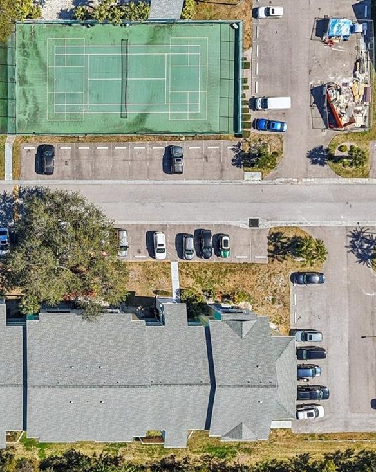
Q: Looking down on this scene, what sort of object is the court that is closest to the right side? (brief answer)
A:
tennis court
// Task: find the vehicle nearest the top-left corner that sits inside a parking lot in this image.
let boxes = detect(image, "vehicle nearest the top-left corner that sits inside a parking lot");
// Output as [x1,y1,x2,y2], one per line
[40,145,54,174]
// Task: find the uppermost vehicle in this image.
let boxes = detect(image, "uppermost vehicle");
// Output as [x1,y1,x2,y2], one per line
[256,5,284,19]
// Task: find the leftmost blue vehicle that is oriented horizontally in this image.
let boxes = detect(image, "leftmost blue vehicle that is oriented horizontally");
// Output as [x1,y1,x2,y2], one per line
[254,119,286,133]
